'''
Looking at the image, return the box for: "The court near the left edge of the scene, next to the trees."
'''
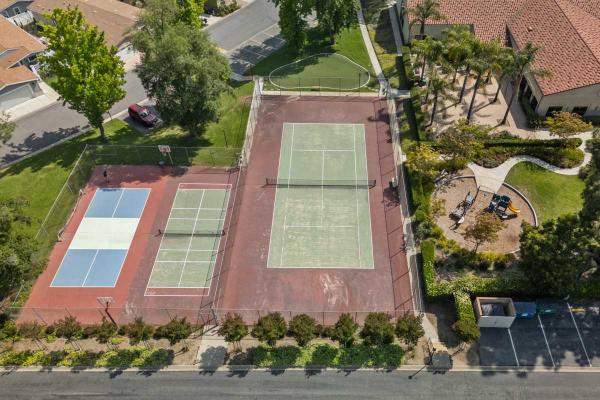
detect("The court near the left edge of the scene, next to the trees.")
[19,165,179,322]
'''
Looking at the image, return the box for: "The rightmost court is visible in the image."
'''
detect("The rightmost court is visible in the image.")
[219,94,417,327]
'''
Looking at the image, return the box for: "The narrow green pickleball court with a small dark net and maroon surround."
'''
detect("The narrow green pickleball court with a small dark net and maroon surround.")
[122,166,245,322]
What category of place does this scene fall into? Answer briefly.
sports ground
